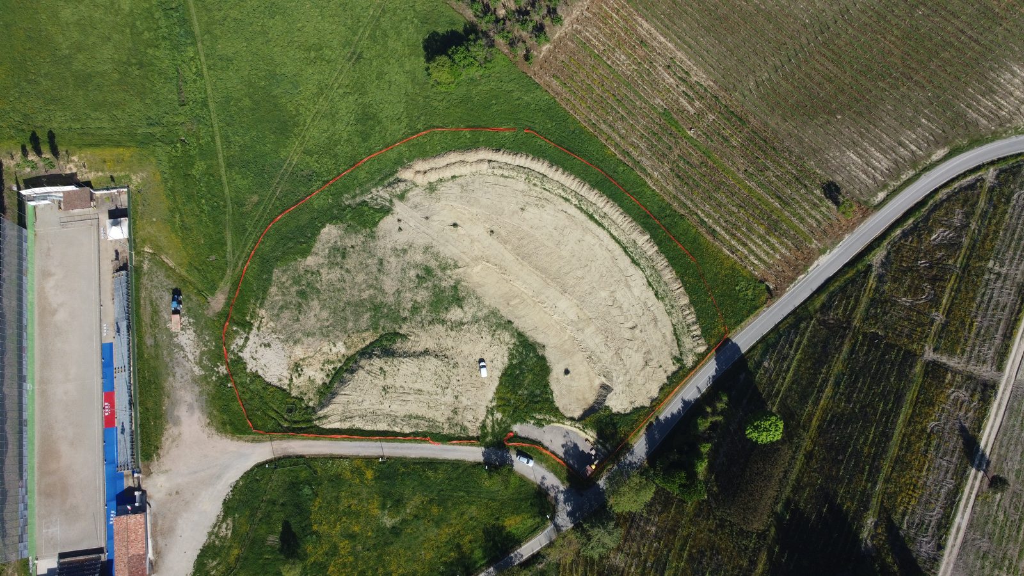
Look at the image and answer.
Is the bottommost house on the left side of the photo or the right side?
left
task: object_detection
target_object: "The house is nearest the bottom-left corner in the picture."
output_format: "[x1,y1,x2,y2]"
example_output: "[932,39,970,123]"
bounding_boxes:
[110,510,157,576]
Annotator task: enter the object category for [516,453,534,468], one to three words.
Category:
car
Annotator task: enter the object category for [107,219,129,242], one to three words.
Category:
tent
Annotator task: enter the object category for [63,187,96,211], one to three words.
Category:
shed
